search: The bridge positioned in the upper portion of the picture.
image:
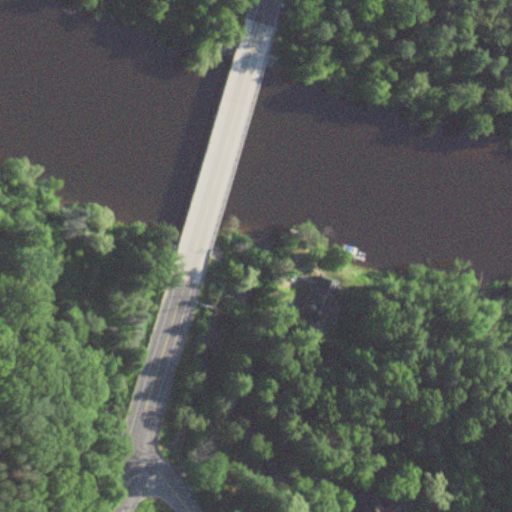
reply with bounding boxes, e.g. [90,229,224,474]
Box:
[173,20,278,290]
